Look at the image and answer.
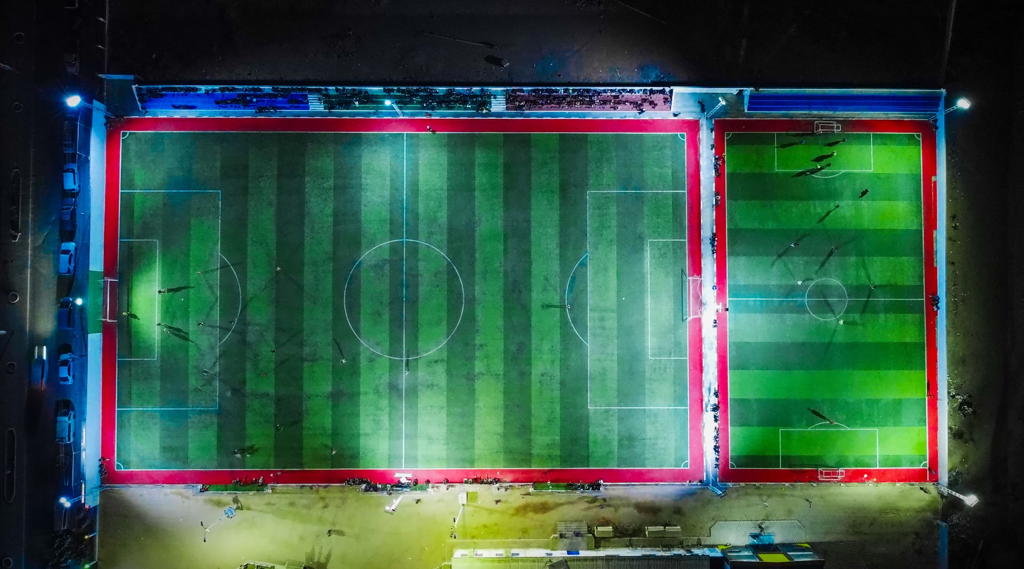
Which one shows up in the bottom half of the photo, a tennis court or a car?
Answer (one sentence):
Looking in the bottom half of the photo, you will find a car.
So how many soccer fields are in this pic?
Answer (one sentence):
The photo contains 2 soccer fields.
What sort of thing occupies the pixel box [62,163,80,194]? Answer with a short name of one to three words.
car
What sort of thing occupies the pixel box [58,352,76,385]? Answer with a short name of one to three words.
car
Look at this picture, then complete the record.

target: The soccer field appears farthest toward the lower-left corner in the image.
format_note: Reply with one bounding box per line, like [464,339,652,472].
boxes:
[101,118,703,485]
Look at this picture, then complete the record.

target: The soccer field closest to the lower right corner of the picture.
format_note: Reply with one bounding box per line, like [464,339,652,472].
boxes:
[716,119,938,483]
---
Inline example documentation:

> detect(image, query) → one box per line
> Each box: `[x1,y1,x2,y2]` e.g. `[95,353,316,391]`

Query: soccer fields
[101,118,703,485]
[716,119,938,483]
